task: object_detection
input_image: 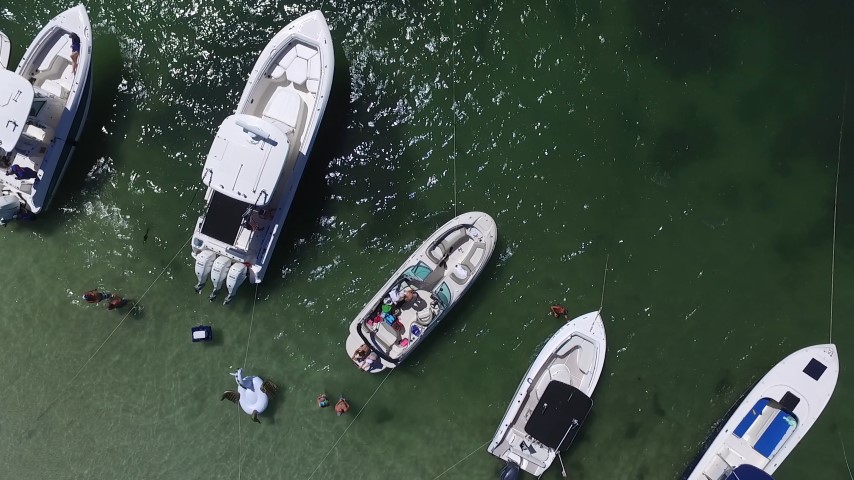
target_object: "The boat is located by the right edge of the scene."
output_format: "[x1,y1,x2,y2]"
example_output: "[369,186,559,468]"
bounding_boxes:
[659,343,839,480]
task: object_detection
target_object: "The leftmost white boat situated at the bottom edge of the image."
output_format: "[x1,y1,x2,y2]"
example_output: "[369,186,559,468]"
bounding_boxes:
[488,312,607,478]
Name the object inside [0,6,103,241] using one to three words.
boat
